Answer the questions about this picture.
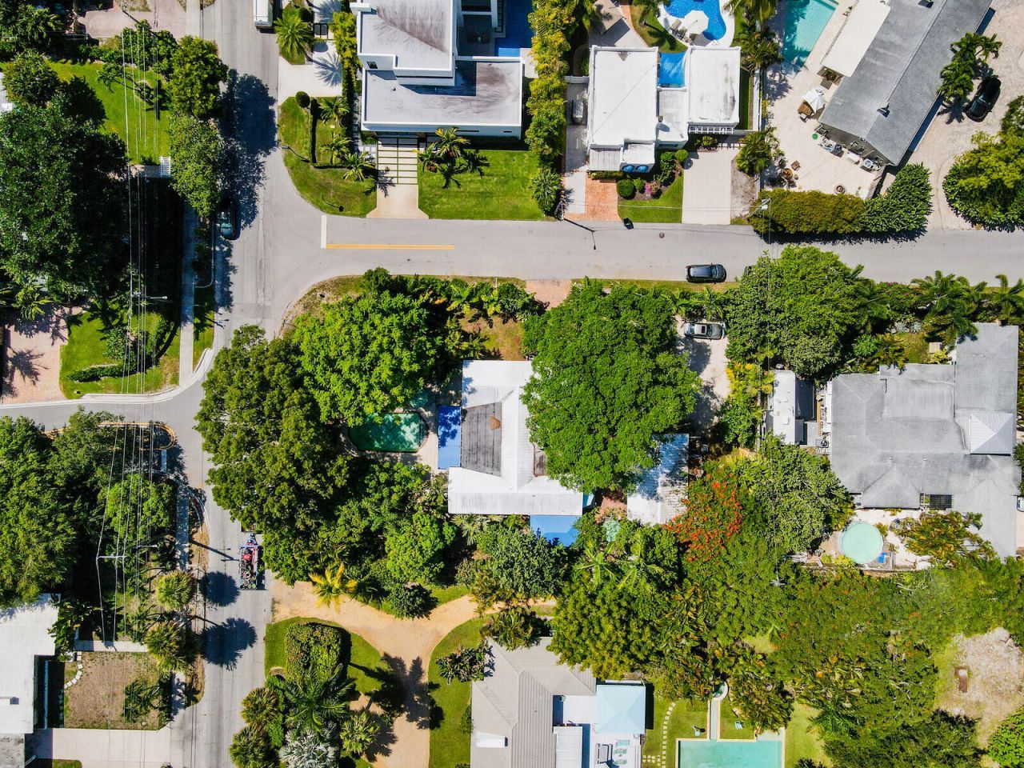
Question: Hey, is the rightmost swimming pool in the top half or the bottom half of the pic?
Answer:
bottom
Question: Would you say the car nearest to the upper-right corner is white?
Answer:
No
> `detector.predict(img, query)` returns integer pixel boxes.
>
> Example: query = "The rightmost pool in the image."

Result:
[837,520,885,566]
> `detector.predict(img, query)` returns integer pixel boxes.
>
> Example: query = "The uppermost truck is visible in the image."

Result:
[246,0,271,27]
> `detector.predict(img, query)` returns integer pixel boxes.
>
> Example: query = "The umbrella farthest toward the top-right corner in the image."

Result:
[799,92,824,115]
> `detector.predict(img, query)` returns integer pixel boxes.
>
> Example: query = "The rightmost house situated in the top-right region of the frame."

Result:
[814,0,992,168]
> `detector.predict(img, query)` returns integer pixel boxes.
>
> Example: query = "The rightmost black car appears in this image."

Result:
[966,76,1000,119]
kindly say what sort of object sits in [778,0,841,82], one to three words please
swimming pool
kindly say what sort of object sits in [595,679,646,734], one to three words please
gazebo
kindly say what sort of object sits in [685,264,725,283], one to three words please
car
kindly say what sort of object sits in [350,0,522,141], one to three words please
house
